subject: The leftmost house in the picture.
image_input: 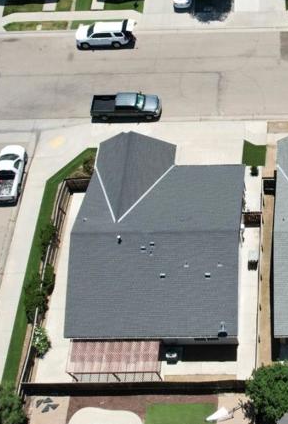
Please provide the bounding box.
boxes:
[63,130,246,348]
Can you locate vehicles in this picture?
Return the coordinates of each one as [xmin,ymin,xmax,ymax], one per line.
[90,92,161,121]
[0,144,26,207]
[72,20,133,51]
[174,0,194,11]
